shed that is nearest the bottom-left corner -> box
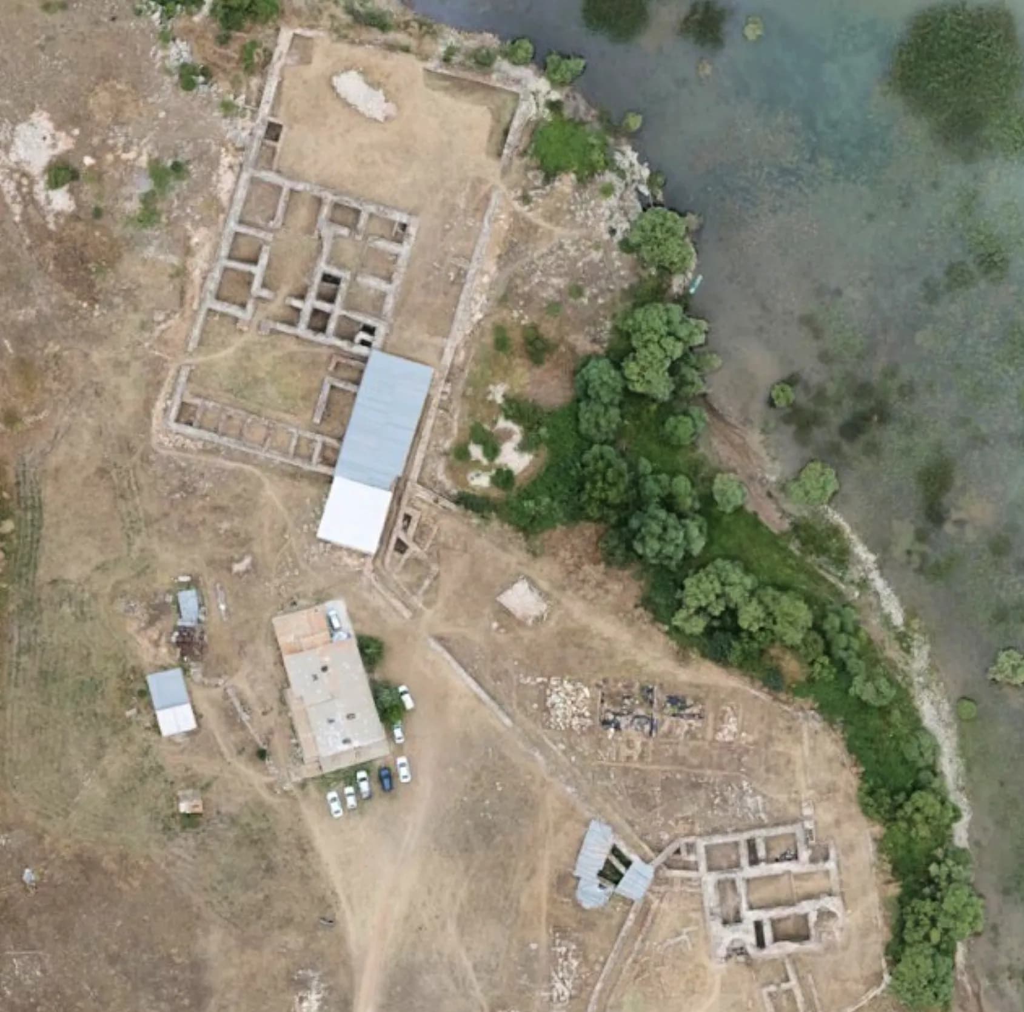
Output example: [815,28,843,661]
[179,786,204,813]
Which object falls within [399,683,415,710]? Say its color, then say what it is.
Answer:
white car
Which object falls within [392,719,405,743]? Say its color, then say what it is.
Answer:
white vehicle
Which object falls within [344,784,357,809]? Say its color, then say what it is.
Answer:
white vehicle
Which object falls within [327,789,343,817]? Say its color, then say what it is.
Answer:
white car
